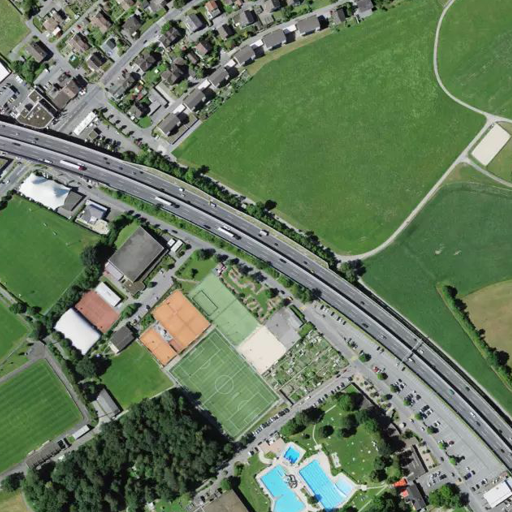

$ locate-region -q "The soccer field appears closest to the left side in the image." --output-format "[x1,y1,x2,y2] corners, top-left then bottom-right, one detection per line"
[0,300,29,360]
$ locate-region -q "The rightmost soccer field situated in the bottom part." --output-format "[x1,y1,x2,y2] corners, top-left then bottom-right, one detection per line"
[170,330,280,440]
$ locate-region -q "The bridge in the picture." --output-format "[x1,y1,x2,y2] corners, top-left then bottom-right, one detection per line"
[0,138,512,474]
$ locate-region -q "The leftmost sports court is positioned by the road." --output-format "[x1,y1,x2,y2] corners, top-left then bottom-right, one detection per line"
[75,290,120,332]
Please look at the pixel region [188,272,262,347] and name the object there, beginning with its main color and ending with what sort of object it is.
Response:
green sports court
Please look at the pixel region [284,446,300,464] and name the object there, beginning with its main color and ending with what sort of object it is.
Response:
blue swimming pool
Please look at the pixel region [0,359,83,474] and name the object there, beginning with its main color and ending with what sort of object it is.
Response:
green soccer field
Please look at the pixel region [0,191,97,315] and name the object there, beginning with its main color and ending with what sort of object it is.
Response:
green soccer field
